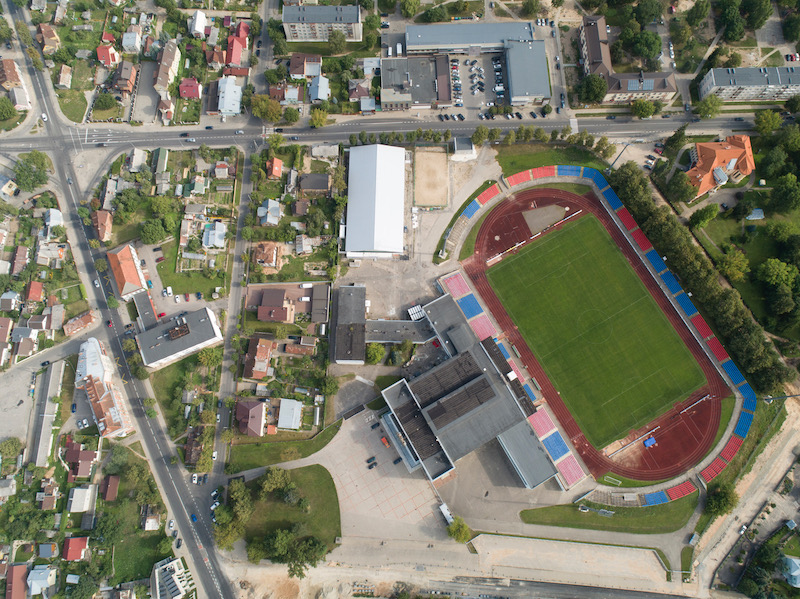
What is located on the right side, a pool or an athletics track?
athletics track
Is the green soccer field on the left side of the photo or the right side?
right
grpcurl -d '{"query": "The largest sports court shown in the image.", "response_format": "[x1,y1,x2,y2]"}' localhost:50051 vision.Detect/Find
[415,148,448,205]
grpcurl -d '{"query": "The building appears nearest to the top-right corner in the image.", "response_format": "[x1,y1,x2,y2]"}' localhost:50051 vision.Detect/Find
[699,66,800,102]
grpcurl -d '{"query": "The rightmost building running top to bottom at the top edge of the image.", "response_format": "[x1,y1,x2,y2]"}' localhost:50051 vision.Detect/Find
[578,12,612,85]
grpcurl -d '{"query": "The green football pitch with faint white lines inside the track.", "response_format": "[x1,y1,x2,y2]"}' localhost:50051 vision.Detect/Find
[484,212,709,451]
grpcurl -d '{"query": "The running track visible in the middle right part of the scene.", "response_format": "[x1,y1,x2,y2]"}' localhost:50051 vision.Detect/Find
[459,188,734,482]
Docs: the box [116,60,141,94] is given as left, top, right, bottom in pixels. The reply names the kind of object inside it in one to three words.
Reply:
house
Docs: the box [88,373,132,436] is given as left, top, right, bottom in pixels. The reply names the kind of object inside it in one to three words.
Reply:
building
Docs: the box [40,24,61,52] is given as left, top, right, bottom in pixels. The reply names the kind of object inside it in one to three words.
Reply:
house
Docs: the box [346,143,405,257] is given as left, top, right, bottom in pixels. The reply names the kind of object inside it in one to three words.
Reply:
building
